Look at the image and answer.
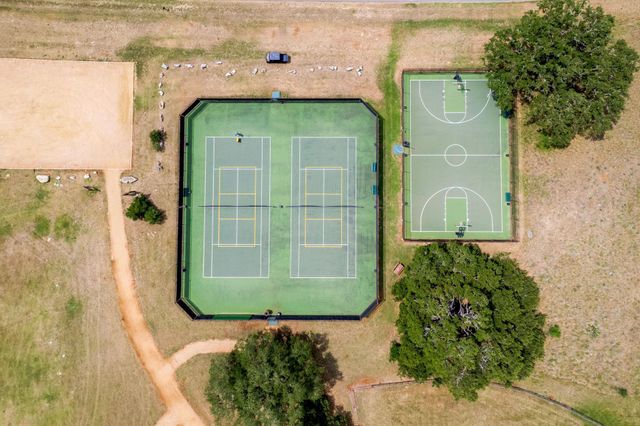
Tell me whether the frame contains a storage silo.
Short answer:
No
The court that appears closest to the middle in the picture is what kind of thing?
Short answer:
tennis court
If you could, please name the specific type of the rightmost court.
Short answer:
basketball court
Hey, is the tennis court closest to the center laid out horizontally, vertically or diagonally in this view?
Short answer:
vertically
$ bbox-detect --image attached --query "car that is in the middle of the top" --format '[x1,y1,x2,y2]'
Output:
[266,49,289,64]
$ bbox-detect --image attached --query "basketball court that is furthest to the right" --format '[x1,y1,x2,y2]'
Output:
[404,72,510,239]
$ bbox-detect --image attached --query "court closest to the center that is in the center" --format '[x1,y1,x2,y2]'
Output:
[290,136,357,279]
